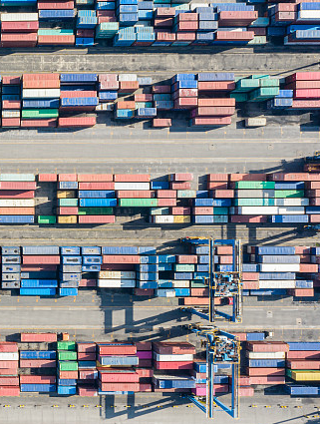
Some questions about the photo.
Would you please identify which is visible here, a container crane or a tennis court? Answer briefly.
container crane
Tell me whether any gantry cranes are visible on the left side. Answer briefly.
No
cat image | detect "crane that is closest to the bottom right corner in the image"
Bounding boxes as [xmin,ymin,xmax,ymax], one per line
[177,323,244,421]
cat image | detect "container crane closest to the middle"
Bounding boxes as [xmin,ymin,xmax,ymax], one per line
[176,237,242,322]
